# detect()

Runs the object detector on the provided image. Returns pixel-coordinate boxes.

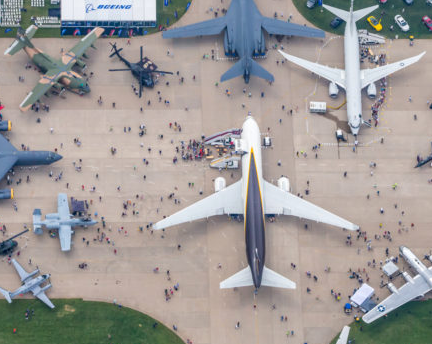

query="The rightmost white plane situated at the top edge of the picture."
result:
[278,0,426,135]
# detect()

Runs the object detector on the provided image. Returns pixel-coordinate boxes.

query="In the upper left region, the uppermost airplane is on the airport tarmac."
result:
[8,20,109,107]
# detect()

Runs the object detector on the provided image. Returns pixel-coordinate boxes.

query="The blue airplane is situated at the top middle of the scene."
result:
[163,0,325,85]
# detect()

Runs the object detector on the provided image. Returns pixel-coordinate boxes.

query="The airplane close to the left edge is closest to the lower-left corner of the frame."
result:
[0,261,53,308]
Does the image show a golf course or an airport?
airport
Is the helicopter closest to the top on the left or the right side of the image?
left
